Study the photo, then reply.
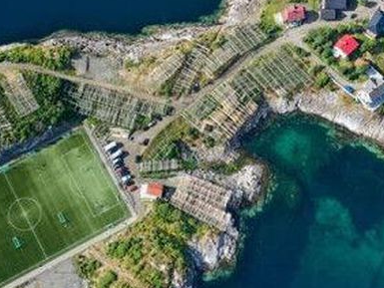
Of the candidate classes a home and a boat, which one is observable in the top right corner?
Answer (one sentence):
There is a home in the top right corner.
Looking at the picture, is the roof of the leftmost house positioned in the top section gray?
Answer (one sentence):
No, the roof of the leftmost house positioned in the top section is red.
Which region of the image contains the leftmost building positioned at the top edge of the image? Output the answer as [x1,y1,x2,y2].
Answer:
[275,6,307,27]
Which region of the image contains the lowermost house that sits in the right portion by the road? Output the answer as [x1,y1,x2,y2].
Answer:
[357,66,384,114]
